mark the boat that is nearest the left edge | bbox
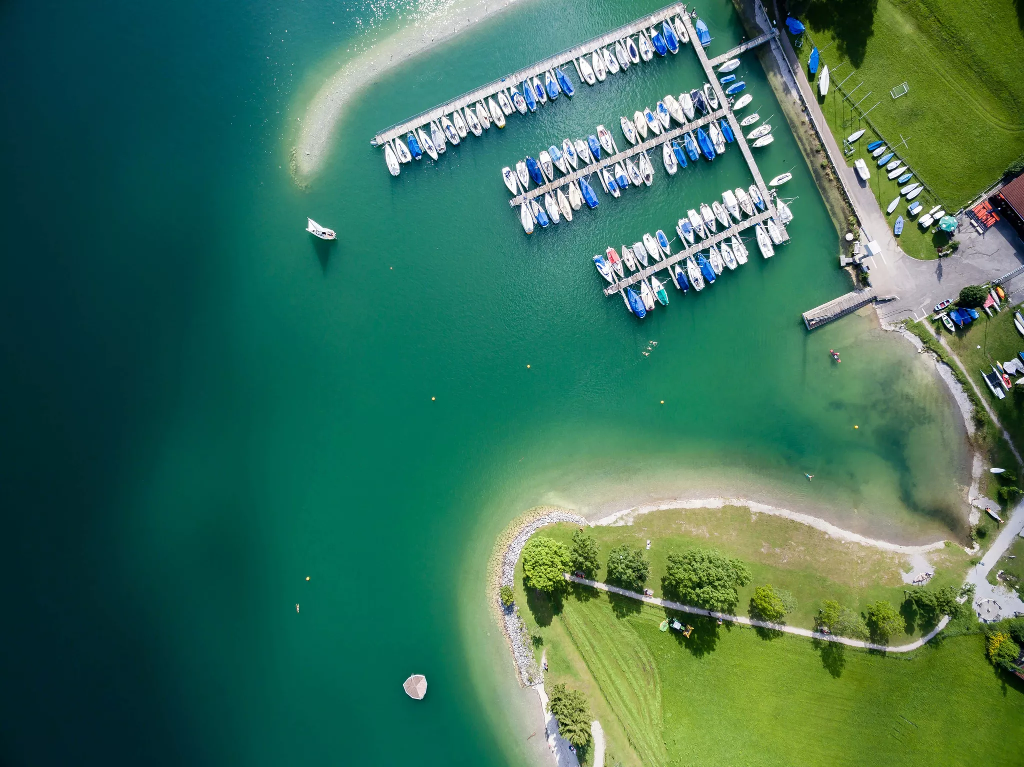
[305,219,338,240]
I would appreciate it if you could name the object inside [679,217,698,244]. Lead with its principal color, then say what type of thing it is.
white boat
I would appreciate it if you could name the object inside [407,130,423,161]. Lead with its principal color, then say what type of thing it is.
blue boat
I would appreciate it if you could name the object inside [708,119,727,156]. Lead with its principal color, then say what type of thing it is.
white boat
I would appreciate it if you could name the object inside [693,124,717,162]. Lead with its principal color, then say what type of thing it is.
blue boat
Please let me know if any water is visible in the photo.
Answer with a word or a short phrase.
Yes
